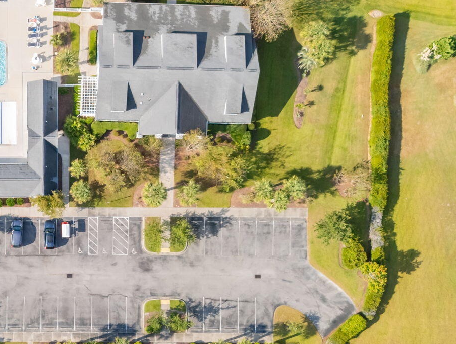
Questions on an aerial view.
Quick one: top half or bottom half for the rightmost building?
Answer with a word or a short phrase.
top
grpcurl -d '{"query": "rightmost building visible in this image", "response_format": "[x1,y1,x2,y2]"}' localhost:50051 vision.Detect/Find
[95,3,259,142]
